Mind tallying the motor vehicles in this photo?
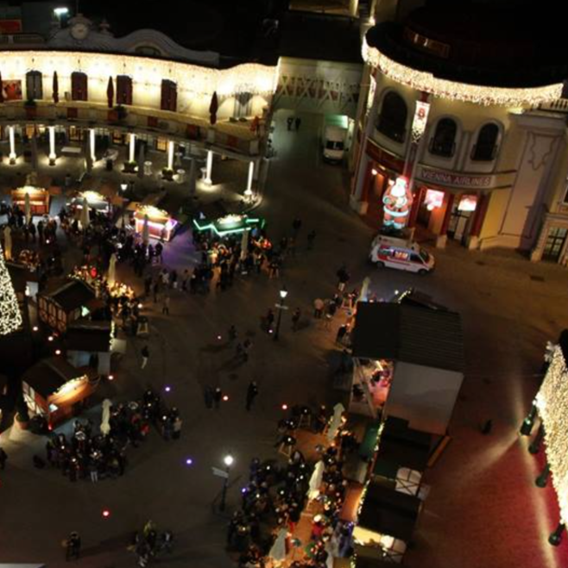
two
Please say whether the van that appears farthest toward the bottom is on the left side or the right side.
right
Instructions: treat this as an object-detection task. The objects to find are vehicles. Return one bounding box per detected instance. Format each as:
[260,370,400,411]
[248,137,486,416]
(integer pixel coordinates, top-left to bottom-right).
[369,230,446,276]
[315,118,349,165]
